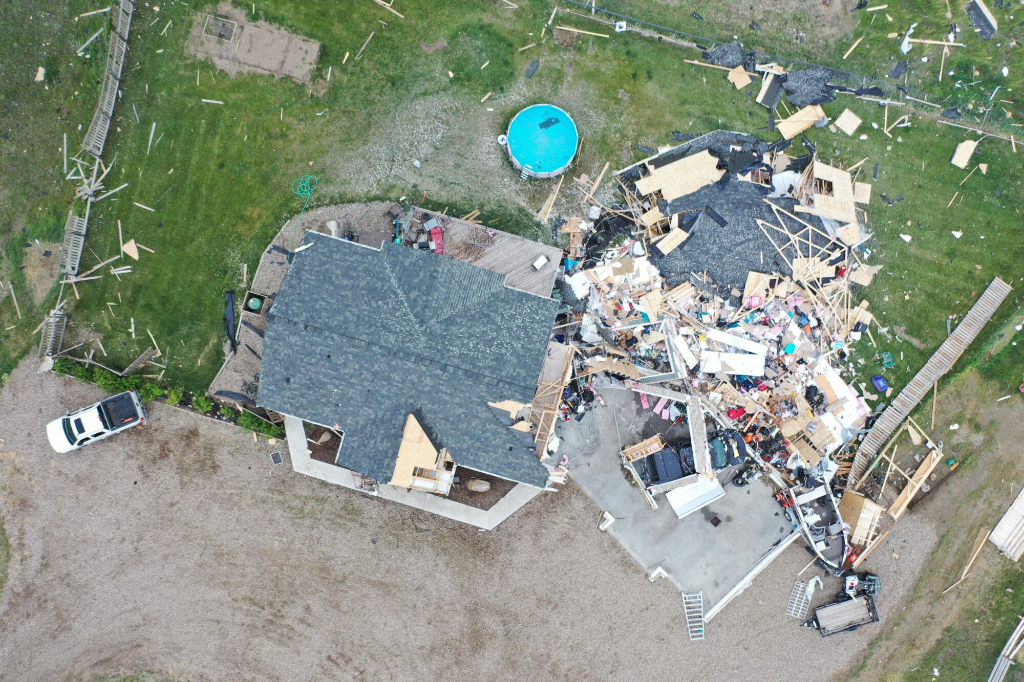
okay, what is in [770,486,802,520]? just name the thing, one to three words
work vehicle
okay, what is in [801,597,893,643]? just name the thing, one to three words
trailer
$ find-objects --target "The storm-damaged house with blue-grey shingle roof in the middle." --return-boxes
[256,228,576,497]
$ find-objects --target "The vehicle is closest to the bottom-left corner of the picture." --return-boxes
[45,388,156,454]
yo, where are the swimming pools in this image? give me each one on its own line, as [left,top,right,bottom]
[507,104,579,182]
